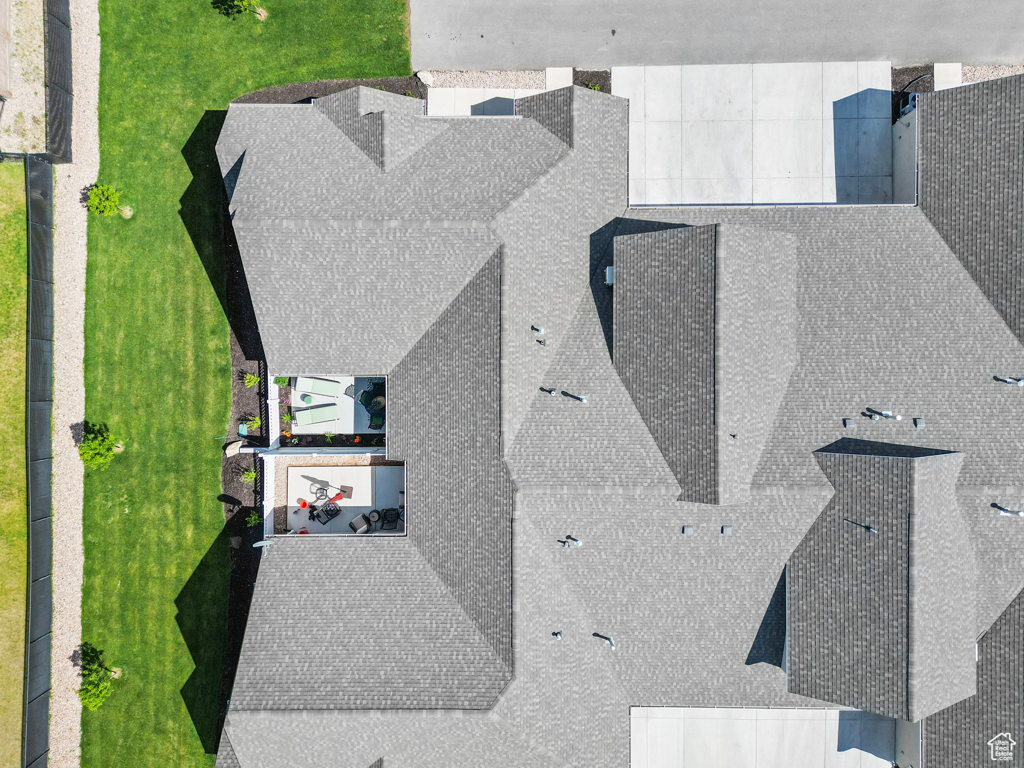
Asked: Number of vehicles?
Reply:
zero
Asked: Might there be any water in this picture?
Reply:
No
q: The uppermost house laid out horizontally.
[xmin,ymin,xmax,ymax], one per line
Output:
[215,85,1024,506]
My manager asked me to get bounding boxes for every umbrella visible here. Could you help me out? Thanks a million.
[330,485,353,503]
